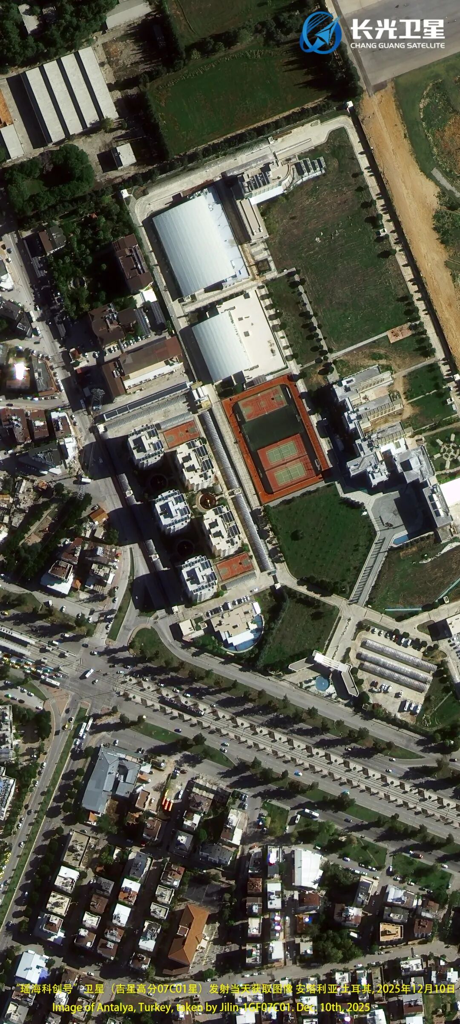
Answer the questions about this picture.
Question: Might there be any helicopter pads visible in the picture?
No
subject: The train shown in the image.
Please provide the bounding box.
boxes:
[163,694,204,713]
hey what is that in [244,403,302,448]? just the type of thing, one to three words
soccer field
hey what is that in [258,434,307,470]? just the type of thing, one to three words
tennis court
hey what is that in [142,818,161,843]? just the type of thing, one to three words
house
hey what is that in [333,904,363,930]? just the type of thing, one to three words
building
